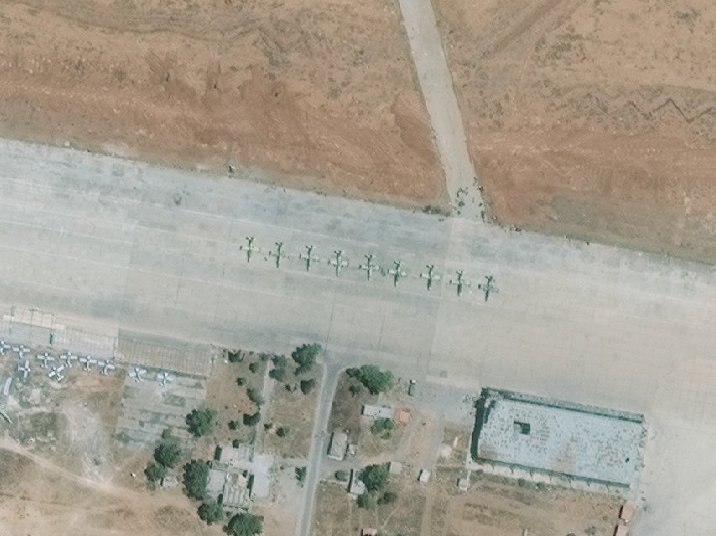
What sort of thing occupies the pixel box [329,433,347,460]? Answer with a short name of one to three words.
house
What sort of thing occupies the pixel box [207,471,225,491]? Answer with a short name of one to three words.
house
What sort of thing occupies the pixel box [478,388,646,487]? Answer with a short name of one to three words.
hangar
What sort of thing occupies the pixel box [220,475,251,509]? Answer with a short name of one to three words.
building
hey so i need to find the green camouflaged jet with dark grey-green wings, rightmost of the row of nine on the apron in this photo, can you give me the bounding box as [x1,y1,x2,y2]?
[478,275,498,299]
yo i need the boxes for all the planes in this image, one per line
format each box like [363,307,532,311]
[268,241,288,265]
[13,342,29,358]
[359,254,379,277]
[450,270,470,294]
[17,361,33,378]
[478,275,498,299]
[420,264,441,288]
[37,351,54,366]
[240,236,259,260]
[60,350,78,365]
[156,370,173,385]
[328,249,348,273]
[129,367,145,382]
[80,354,96,369]
[98,358,115,373]
[299,245,319,269]
[48,366,64,381]
[0,339,10,354]
[388,259,408,284]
